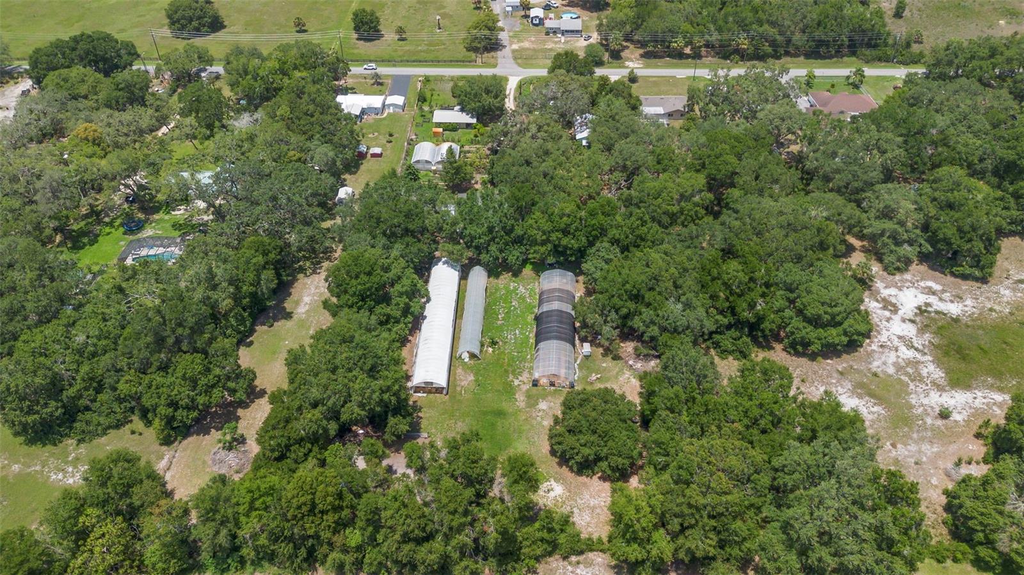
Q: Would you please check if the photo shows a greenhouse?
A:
Yes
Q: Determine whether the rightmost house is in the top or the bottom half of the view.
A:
top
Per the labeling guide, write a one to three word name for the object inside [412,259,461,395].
greenhouse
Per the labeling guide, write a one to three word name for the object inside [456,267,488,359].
greenhouse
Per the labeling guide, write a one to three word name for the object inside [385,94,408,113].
building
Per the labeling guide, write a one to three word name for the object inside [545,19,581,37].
house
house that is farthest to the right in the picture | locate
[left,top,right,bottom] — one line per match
[797,81,877,123]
